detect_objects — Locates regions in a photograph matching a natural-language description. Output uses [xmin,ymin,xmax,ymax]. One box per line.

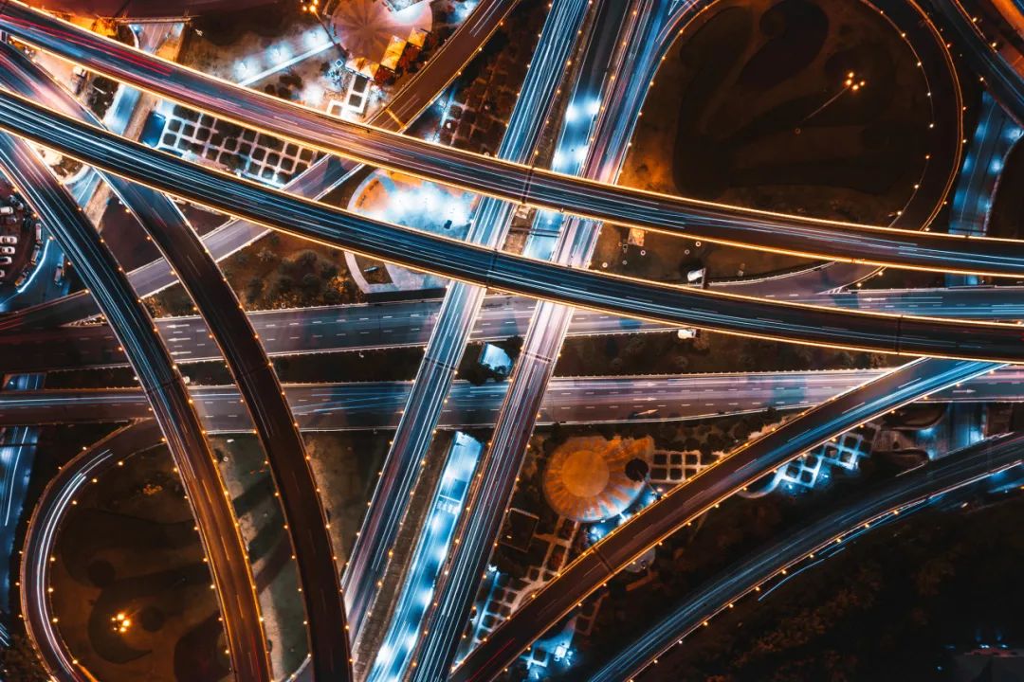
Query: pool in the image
[141,110,166,147]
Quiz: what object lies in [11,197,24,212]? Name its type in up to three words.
vehicle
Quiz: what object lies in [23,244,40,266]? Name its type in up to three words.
vehicle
